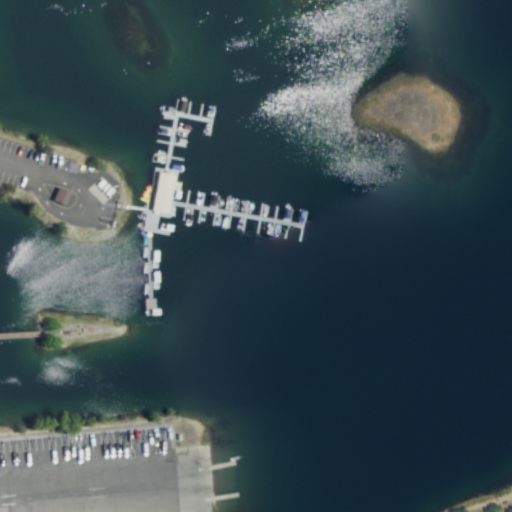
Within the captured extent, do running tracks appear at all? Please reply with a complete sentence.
No, there's no running track here.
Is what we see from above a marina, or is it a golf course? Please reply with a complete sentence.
This image shows a marina.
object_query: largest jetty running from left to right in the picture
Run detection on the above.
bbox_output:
[174,190,308,241]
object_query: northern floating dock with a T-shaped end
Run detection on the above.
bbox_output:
[156,99,216,172]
